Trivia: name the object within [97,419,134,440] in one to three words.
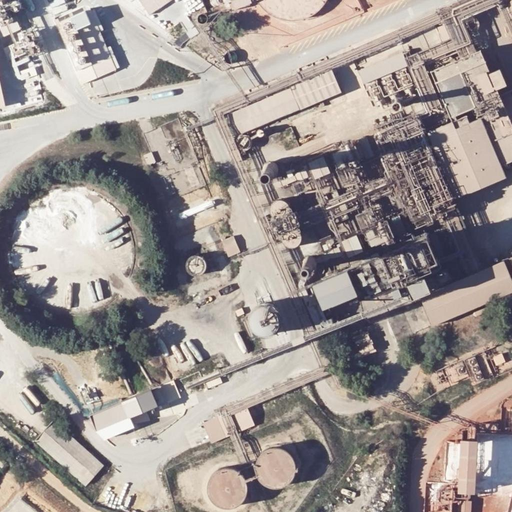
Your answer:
building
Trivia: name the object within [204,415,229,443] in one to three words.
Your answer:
building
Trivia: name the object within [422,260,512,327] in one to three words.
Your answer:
shed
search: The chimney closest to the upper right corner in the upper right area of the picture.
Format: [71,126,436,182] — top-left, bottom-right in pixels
[392,96,404,111]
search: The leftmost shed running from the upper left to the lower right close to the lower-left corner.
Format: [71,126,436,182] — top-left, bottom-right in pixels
[37,424,104,486]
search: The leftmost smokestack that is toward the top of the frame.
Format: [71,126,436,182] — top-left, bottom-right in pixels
[260,159,280,184]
